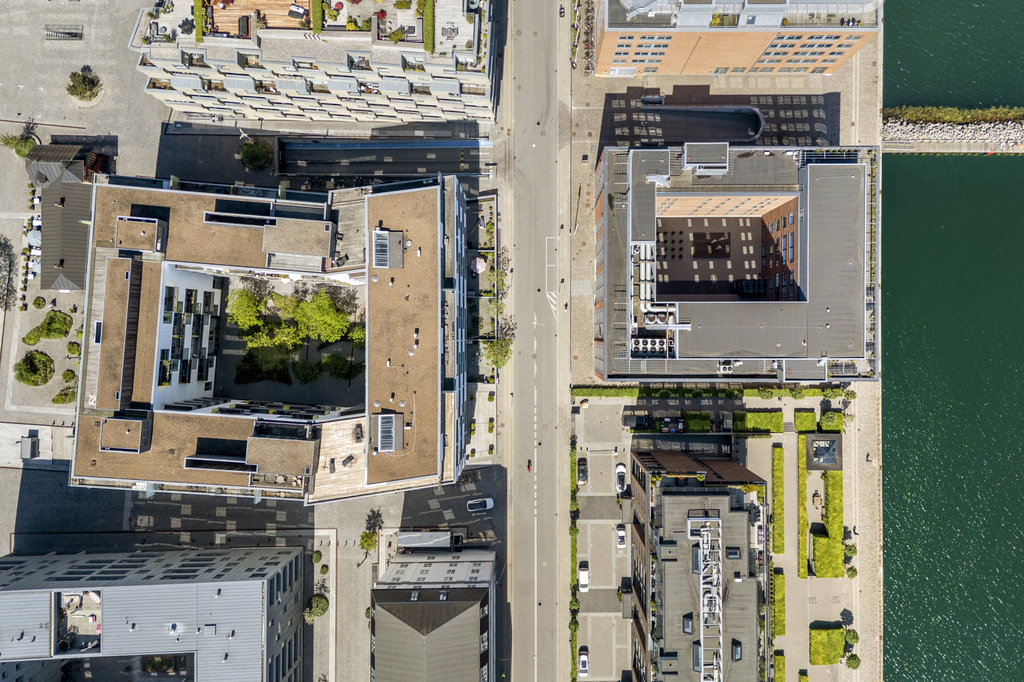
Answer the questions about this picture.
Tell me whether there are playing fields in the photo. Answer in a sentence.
No, there isn't any playing field down there.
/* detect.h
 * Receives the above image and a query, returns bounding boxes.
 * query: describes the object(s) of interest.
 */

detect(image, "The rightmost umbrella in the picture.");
[471,257,486,273]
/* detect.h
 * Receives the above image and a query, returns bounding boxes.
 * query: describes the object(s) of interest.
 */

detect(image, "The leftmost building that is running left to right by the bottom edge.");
[0,547,303,682]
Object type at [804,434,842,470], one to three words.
building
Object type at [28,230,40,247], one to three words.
umbrella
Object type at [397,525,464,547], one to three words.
truck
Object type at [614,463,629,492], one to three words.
car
